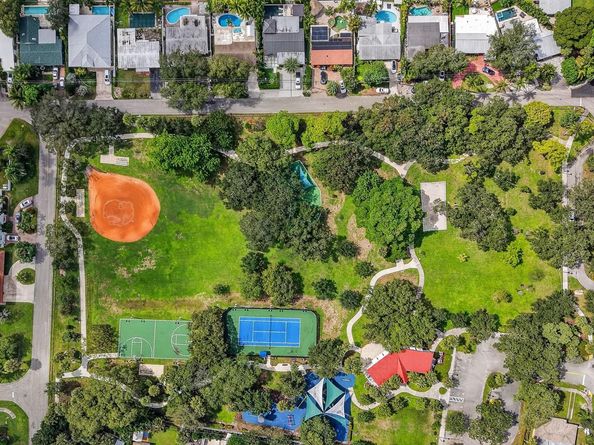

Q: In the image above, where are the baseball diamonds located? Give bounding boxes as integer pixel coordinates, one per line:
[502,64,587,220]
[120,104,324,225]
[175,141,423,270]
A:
[86,167,160,243]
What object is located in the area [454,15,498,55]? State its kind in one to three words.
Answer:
house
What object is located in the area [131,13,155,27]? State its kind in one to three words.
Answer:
swimming pool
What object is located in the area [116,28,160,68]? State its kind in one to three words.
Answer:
house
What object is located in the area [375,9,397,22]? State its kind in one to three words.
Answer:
swimming pool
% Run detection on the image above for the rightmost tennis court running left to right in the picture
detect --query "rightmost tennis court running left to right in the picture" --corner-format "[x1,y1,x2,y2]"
[224,310,318,356]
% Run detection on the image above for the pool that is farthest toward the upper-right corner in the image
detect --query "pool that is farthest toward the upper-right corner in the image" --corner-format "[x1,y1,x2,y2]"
[497,7,517,21]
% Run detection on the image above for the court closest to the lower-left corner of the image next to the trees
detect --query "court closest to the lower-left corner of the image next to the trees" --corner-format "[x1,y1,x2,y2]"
[119,320,198,359]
